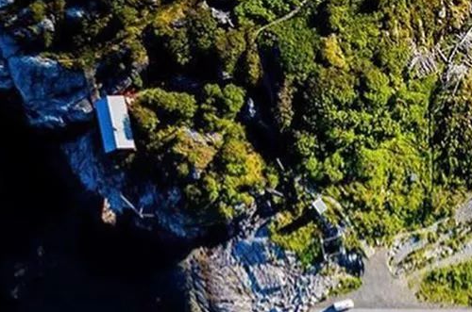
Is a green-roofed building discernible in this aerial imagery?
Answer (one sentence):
No, I can see no green-roofed building in this picture.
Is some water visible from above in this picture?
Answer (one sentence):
Yes, water shows up in the scene.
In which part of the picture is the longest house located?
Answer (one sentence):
The longest house is located in the left region of the scene.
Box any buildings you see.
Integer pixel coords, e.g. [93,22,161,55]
[312,197,327,216]
[95,97,135,160]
